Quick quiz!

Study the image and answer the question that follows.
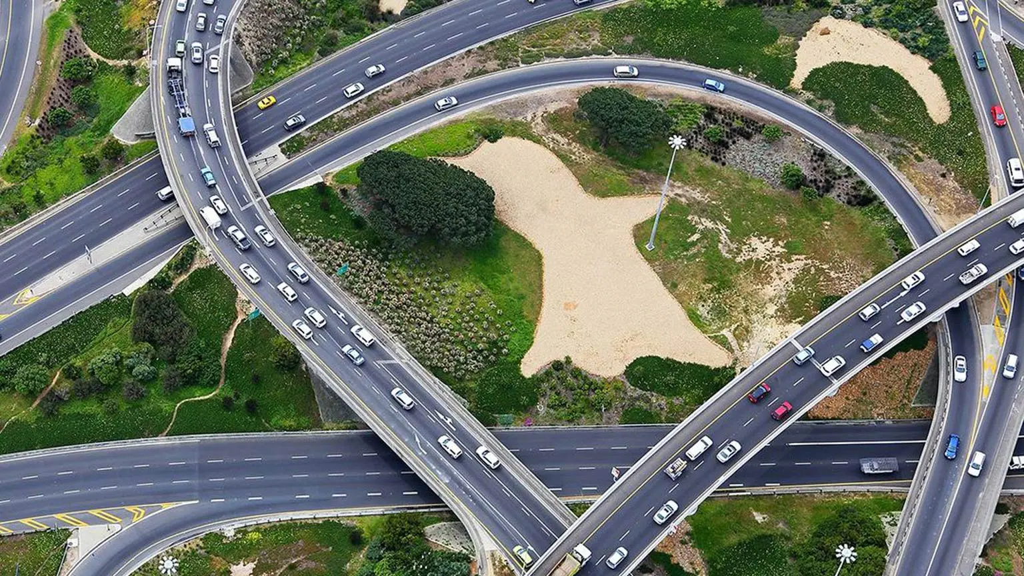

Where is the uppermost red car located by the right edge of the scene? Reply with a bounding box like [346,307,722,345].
[991,106,1006,128]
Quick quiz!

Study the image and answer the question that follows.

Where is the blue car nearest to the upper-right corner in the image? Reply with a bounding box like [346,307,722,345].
[973,50,985,71]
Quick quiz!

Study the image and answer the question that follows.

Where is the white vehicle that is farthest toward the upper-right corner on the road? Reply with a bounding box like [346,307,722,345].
[953,2,966,23]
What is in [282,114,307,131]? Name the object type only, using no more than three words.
car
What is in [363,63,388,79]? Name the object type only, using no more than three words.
car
